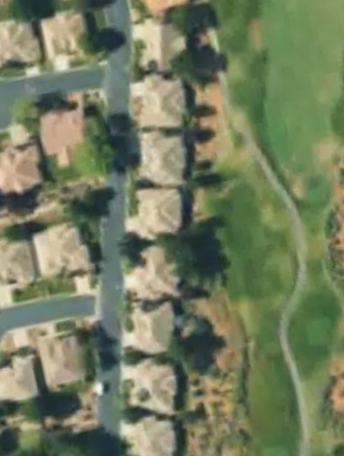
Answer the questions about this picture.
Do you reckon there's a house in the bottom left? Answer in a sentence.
Yes, a house appears in the bottom left.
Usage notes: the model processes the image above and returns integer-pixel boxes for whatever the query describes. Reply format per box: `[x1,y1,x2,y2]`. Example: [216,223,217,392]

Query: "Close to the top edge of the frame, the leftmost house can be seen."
[0,20,42,68]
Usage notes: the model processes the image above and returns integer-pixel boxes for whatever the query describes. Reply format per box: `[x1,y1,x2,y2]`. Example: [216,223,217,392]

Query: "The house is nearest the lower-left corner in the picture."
[0,356,40,401]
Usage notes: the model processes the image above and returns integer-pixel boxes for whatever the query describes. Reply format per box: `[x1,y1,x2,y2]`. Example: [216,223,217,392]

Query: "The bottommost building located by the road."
[126,418,178,456]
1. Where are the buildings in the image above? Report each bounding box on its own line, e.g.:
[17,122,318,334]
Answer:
[136,19,185,72]
[126,304,174,353]
[126,418,178,456]
[0,356,40,401]
[34,226,89,276]
[0,20,42,68]
[129,248,179,300]
[126,362,176,412]
[42,12,85,61]
[0,146,42,195]
[133,189,184,236]
[39,113,83,166]
[135,77,185,127]
[39,340,84,387]
[140,133,187,184]
[0,239,37,289]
